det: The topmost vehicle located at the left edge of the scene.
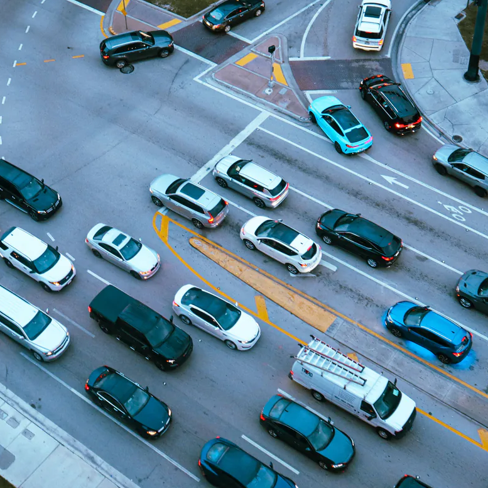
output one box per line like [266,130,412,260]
[0,159,65,223]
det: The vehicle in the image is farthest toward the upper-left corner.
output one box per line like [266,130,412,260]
[99,26,177,68]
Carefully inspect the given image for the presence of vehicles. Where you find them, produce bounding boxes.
[385,301,479,367]
[199,0,268,34]
[0,225,78,294]
[455,269,488,316]
[147,176,230,232]
[196,434,296,488]
[239,216,327,277]
[81,361,172,438]
[85,223,164,281]
[434,145,488,199]
[316,211,409,272]
[170,285,262,351]
[212,156,292,210]
[87,285,196,372]
[312,103,371,158]
[0,281,72,364]
[258,394,356,473]
[295,336,420,442]
[0,159,65,223]
[361,73,424,137]
[99,26,177,68]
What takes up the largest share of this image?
paved ground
